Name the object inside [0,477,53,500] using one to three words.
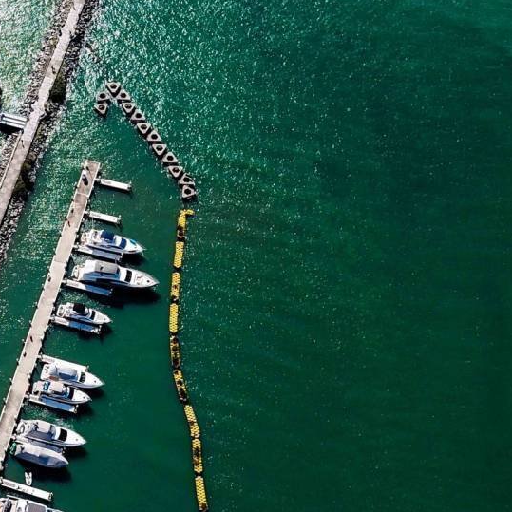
pier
